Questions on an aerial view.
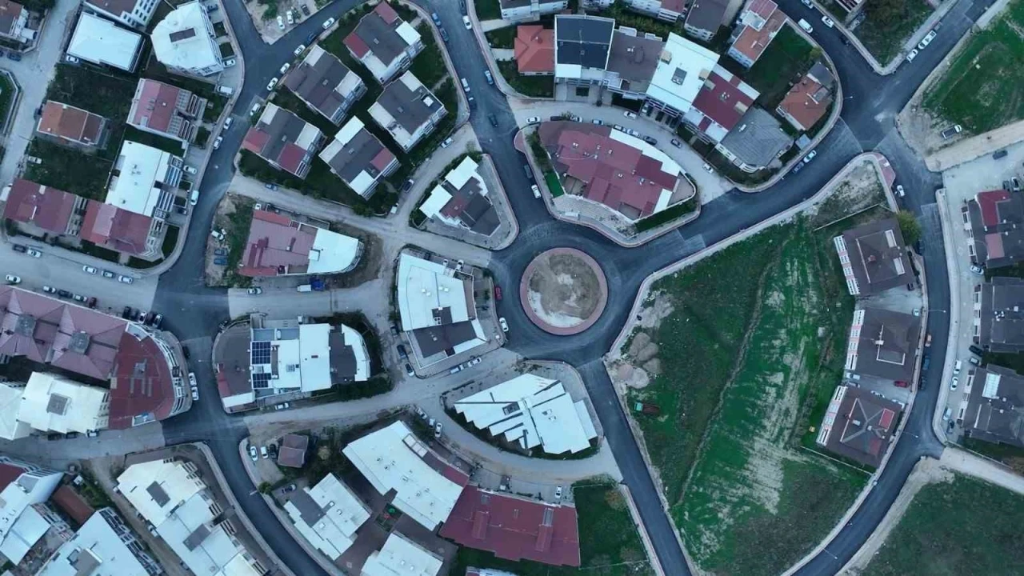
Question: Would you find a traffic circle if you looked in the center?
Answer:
Yes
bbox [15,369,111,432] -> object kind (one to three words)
building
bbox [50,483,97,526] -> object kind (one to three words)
shed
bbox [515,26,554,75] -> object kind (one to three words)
house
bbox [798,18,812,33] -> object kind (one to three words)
vehicle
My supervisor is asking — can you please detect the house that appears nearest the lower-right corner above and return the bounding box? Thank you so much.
[951,363,1024,447]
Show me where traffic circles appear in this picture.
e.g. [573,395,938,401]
[520,247,608,334]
